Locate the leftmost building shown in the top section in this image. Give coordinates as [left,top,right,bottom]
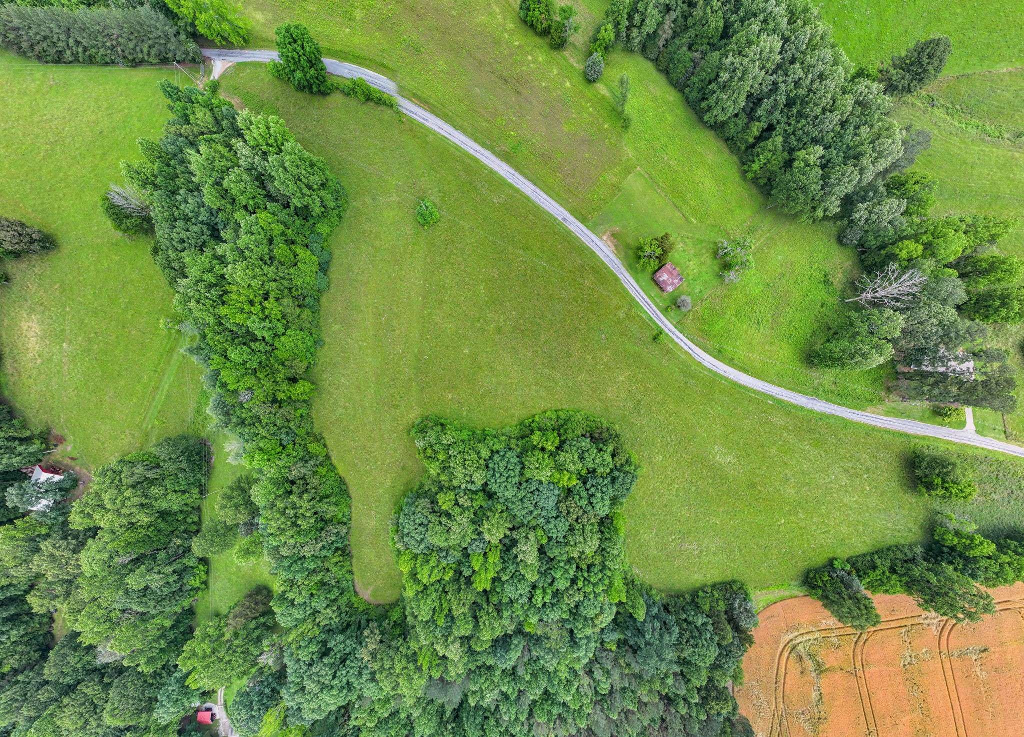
[651,262,684,293]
